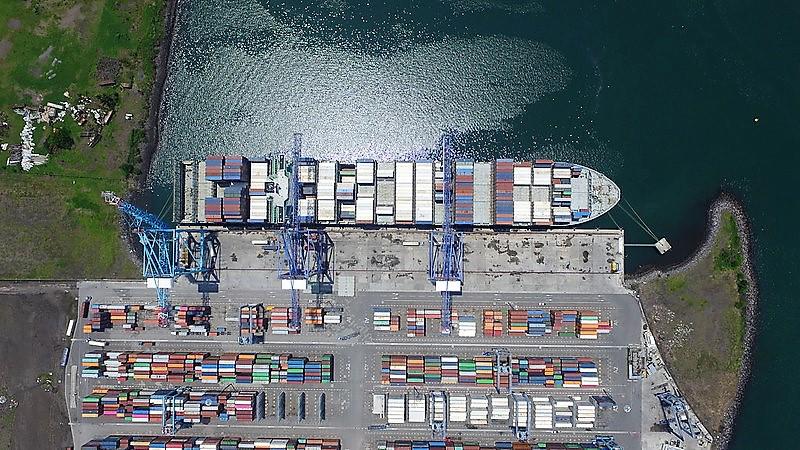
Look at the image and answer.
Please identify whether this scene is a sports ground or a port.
port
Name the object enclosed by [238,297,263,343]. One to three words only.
container crane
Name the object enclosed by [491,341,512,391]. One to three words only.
container crane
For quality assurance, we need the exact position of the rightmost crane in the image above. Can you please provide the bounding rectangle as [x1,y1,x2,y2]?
[655,394,695,441]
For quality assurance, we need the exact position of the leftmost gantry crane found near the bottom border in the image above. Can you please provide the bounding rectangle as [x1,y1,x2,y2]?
[161,382,190,432]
